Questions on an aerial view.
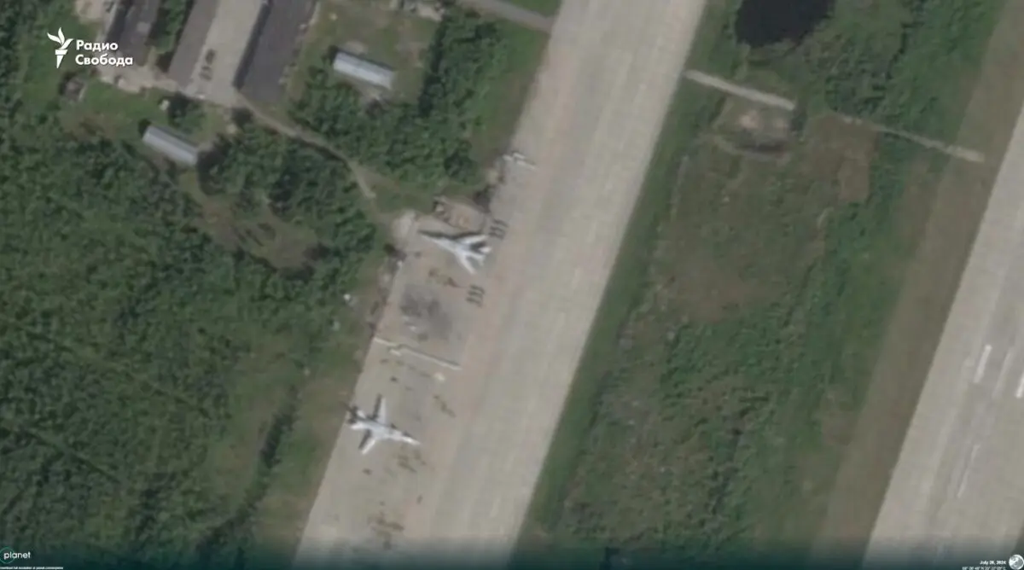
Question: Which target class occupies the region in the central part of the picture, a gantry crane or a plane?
plane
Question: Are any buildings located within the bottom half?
No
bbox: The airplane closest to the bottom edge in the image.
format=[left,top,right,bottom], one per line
[349,399,420,454]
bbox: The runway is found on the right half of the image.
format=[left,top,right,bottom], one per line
[858,106,1024,570]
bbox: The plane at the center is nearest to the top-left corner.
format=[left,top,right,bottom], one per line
[421,233,492,273]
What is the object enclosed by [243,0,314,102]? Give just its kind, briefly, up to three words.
building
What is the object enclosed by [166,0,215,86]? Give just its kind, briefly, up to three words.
building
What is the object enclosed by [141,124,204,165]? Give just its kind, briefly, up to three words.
shed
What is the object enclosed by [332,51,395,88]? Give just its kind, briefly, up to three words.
shed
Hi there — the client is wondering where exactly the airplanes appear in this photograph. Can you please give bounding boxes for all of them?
[421,233,492,273]
[349,399,420,454]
